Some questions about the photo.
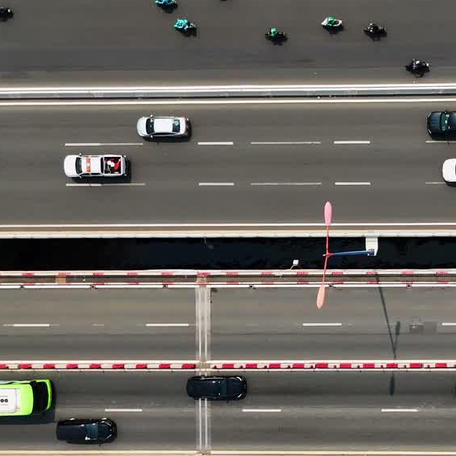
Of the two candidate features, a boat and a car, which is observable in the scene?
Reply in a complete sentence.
There is a car in the scene.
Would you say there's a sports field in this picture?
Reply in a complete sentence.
No, I can't see a single sports field in this photo.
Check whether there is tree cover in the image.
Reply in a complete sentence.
No, the picture contains no tree cover.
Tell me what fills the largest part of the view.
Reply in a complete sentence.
What you mostly see from above here is paved ground.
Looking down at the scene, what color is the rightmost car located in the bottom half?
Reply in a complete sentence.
In this view, the rightmost car located in the bottom half is black.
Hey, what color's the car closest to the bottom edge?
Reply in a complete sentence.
The color of the car closest to the bottom edge is black.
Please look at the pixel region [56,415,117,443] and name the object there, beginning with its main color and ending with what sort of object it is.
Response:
black car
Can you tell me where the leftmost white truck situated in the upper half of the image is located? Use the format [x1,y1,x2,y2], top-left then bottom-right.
[65,152,130,179]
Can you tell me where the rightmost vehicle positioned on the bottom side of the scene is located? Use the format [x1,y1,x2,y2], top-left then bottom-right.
[187,373,245,401]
